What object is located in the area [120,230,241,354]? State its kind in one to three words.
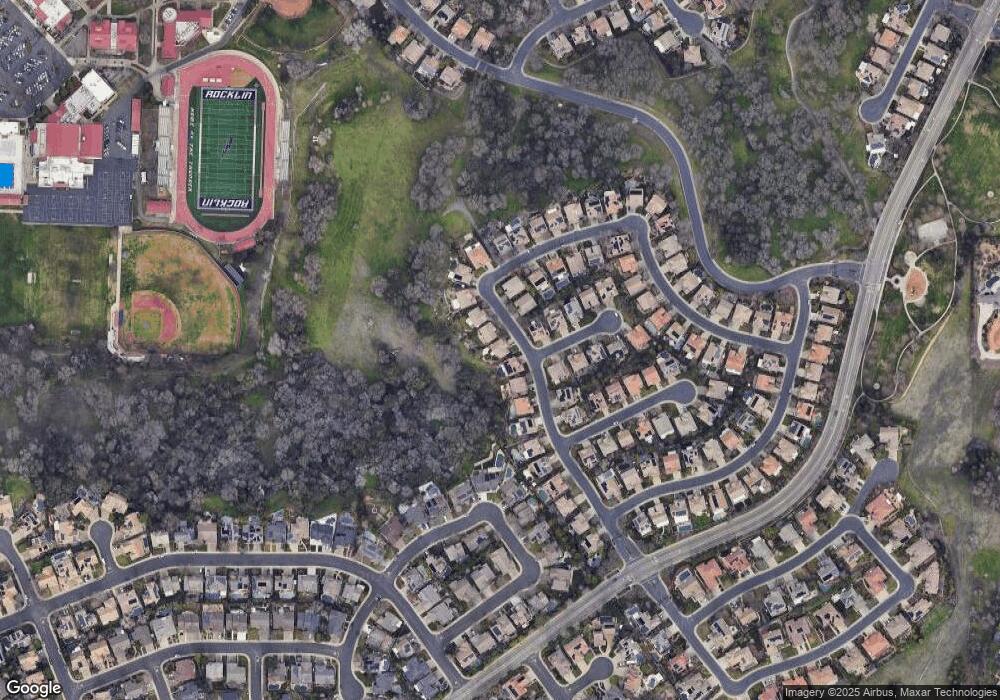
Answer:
baseball field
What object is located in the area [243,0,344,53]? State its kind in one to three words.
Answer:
baseball field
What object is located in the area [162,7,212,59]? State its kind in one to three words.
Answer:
building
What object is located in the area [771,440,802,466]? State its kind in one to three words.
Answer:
house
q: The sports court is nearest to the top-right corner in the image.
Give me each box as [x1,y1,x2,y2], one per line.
[918,218,949,244]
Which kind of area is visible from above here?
residential area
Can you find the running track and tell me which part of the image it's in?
top left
